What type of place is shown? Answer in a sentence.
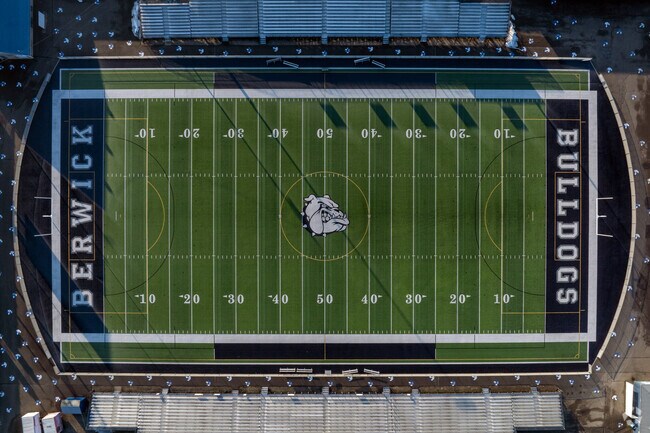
It's a sports ground.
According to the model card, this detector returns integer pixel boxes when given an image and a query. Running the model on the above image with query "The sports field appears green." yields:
[17,58,632,373]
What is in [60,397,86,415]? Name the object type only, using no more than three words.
shed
